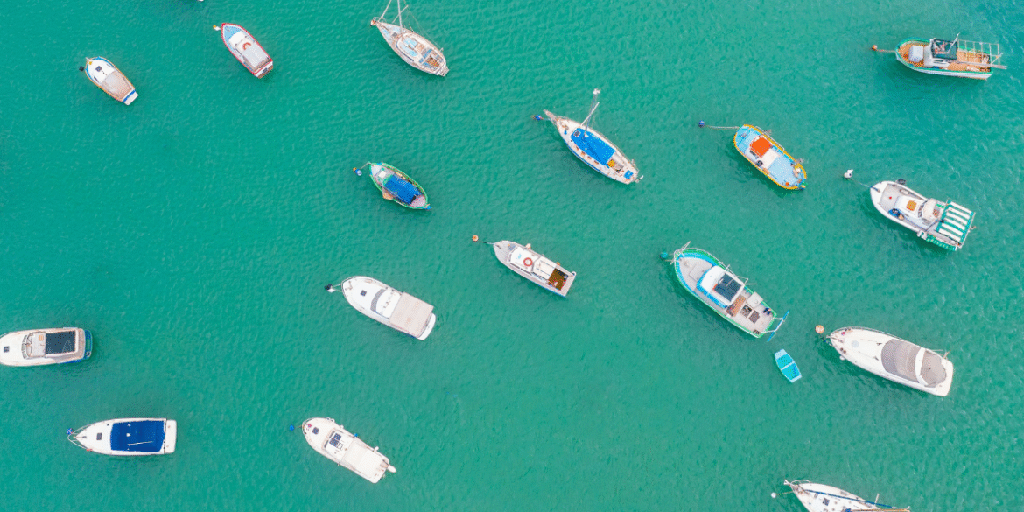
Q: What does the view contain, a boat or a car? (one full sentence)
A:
The one in the frame is a boat.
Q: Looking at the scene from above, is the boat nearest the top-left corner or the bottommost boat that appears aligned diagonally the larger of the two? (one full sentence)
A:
The bottommost boat that appears aligned diagonally is bigger than the boat nearest the top-left corner.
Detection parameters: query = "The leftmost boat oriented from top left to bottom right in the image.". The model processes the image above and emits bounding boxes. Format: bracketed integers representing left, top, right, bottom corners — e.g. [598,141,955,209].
[83,56,138,104]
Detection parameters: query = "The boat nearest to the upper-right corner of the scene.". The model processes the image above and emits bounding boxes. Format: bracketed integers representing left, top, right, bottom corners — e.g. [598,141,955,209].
[893,29,1007,79]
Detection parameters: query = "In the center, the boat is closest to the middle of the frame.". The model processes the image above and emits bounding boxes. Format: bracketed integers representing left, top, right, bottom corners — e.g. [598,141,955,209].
[493,240,576,298]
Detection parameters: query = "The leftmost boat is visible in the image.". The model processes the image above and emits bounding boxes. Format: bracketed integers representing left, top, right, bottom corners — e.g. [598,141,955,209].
[0,327,95,367]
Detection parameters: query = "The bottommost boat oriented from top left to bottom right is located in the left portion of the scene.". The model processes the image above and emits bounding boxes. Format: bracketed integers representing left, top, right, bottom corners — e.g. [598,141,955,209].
[298,417,396,482]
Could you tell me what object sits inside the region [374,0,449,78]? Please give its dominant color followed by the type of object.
white boat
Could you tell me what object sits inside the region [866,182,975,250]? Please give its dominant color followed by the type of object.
white boat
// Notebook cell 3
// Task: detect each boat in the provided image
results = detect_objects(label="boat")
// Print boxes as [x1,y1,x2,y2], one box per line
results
[0,327,95,367]
[866,182,975,250]
[374,0,449,78]
[219,21,274,78]
[493,240,576,298]
[544,90,645,188]
[829,325,952,397]
[336,273,437,339]
[734,126,805,194]
[784,479,912,512]
[673,240,789,341]
[63,418,178,455]
[83,56,138,104]
[366,160,431,214]
[298,417,396,482]
[775,350,802,382]
[893,29,1007,79]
